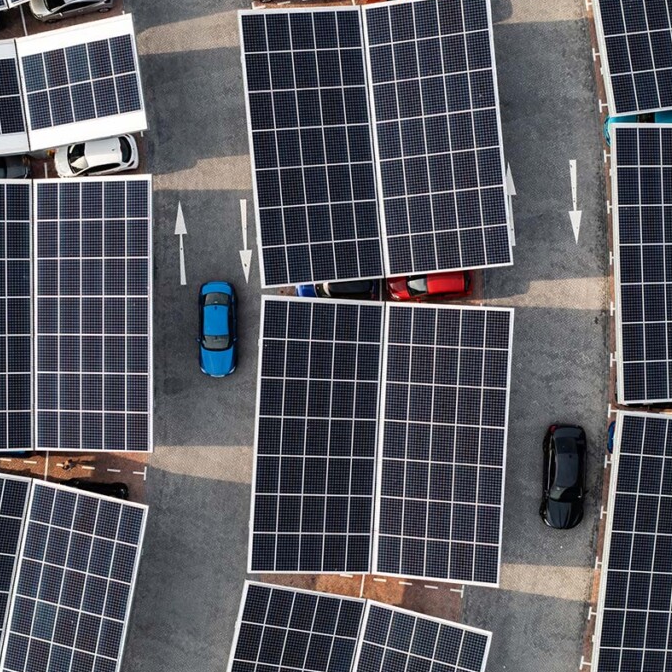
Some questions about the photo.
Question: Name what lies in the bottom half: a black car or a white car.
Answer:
black car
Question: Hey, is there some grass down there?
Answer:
No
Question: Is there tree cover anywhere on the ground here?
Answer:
No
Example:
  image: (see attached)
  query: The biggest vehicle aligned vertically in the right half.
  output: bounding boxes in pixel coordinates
[543,424,590,529]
